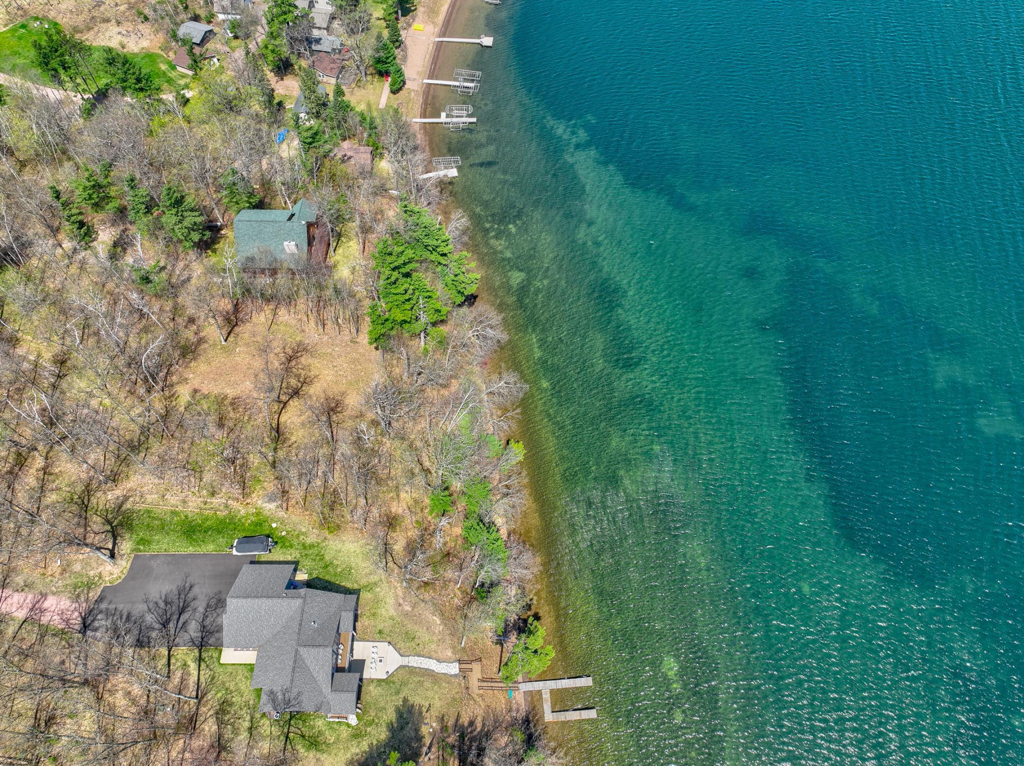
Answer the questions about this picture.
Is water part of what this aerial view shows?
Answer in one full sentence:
Yes, some water is visible.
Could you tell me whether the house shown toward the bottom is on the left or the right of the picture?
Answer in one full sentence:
The house shown toward the bottom is on the left side of the image.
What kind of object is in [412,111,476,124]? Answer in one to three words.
pier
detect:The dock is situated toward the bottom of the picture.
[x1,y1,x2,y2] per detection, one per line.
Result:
[519,676,597,723]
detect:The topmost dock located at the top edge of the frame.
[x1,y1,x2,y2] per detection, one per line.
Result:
[435,36,493,49]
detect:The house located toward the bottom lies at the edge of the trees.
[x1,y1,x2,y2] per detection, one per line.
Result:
[223,564,364,723]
